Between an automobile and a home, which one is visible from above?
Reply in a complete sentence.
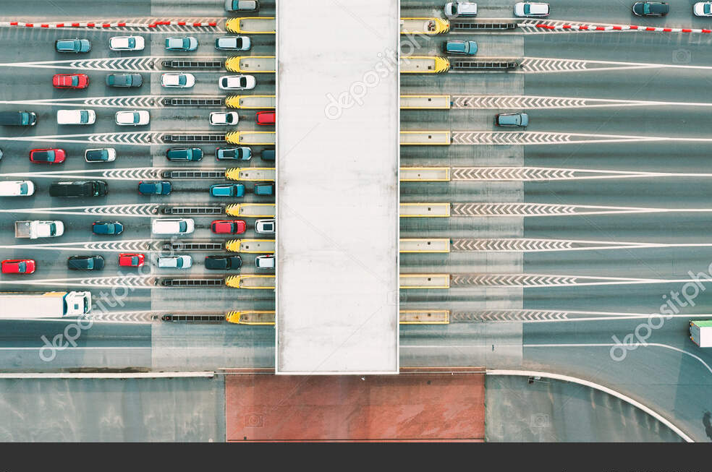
Looking from above, you can make out an automobile.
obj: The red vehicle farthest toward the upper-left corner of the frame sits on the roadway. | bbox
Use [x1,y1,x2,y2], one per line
[52,72,89,90]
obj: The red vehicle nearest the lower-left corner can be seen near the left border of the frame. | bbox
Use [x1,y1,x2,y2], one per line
[0,259,36,276]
